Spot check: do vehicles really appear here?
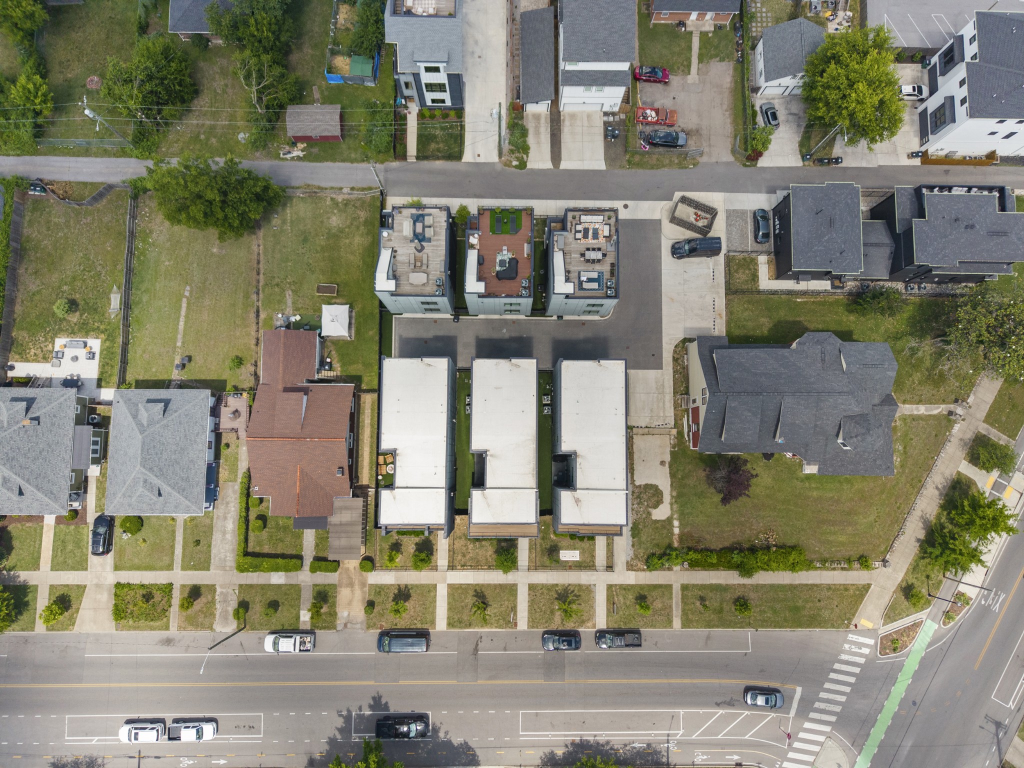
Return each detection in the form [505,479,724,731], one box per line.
[671,236,723,259]
[751,209,771,245]
[541,630,582,651]
[90,514,116,558]
[756,97,785,135]
[742,687,784,710]
[264,631,318,654]
[633,65,670,86]
[168,718,220,742]
[595,628,643,650]
[648,129,687,149]
[376,715,432,740]
[634,106,678,127]
[119,720,166,744]
[378,631,431,653]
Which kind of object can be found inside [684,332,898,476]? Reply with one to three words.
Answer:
house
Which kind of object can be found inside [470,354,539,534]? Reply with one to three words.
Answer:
house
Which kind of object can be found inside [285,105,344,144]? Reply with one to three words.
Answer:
shed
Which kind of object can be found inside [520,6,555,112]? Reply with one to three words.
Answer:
building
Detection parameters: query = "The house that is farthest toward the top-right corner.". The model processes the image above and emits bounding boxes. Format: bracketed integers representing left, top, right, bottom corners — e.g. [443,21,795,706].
[921,10,1024,150]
